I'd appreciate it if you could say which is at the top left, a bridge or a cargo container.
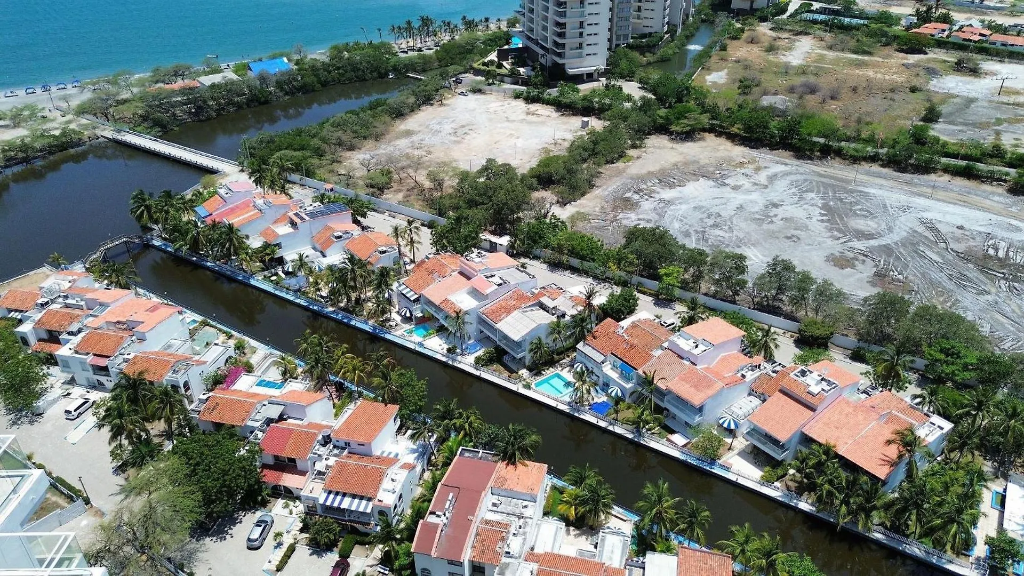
bridge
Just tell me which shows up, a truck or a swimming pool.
swimming pool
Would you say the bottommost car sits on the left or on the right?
left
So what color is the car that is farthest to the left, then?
white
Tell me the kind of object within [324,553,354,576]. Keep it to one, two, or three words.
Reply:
car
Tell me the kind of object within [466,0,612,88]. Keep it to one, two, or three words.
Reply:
building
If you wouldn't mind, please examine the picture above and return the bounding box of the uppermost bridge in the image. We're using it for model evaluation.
[101,123,252,176]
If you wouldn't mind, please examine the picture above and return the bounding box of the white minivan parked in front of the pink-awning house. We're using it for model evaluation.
[56,395,97,421]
